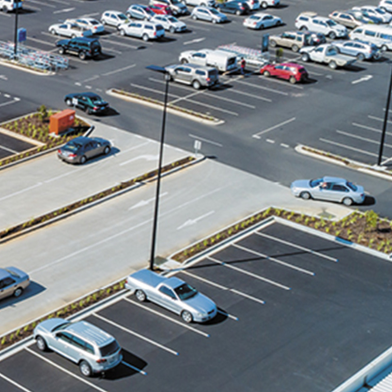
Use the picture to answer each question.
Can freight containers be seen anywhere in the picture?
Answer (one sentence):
No, I can't see a single freight container in this photo.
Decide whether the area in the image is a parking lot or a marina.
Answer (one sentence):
The picture captures a parking lot.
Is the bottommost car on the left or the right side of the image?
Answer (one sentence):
It is on the left.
